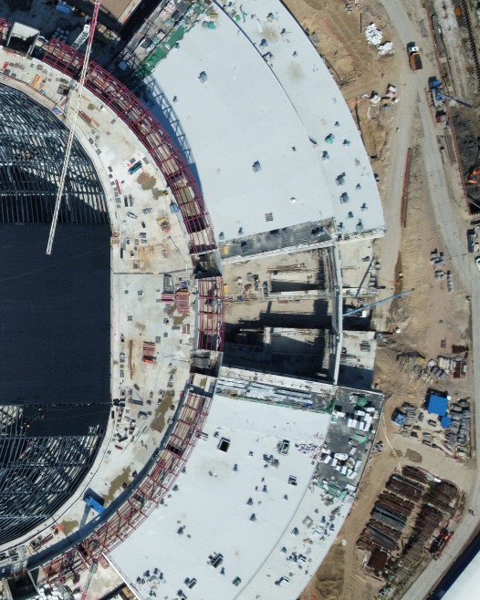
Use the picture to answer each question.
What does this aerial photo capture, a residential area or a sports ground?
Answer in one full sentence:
The area seen from above is a sports ground.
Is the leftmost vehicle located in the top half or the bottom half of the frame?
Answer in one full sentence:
The leftmost vehicle sits in the top half of the picture.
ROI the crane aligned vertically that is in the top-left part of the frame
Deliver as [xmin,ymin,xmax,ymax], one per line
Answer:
[47,0,98,253]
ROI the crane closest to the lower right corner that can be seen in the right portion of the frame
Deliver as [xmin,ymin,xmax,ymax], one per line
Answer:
[340,290,412,323]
